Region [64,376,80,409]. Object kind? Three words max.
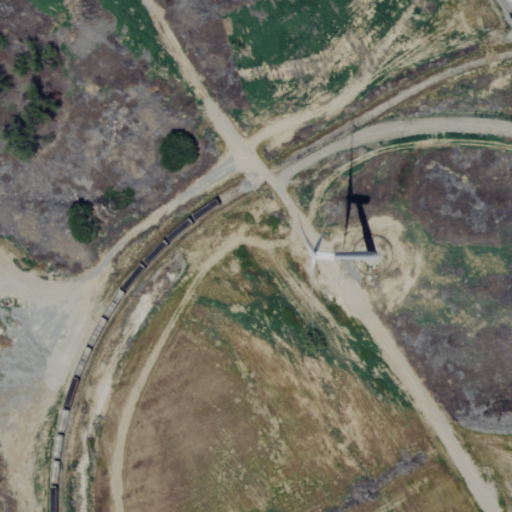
rail car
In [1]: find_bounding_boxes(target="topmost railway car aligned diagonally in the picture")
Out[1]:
[190,198,222,221]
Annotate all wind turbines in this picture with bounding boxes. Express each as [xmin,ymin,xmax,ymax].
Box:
[300,212,384,336]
